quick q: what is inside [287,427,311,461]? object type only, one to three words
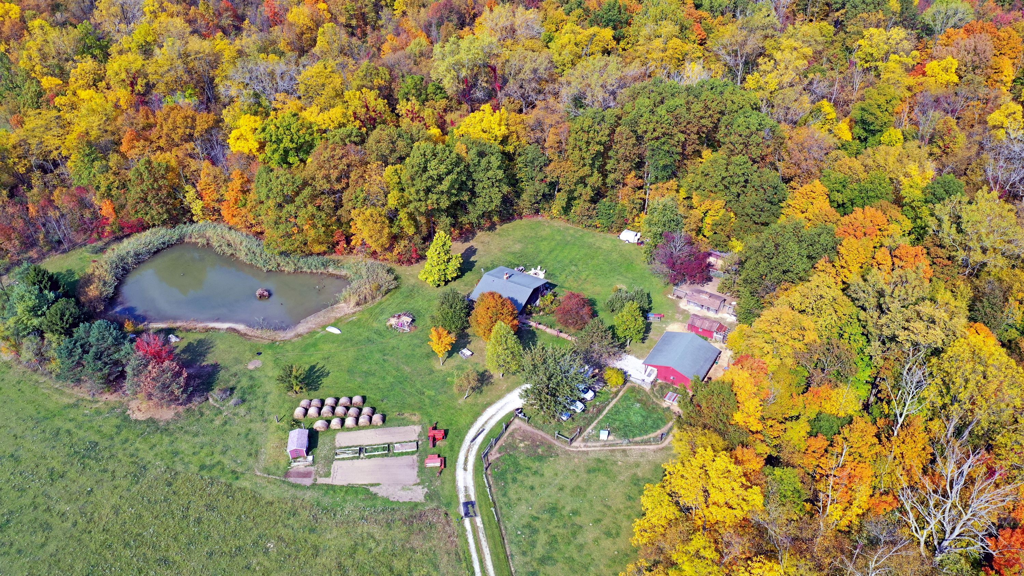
shed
